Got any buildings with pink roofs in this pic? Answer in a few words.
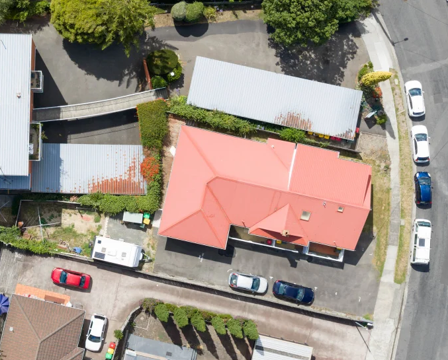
Yes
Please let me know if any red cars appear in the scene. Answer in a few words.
Yes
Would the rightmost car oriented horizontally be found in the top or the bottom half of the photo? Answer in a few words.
bottom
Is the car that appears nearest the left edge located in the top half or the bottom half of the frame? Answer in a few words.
bottom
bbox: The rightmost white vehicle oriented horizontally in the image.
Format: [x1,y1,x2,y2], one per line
[227,273,269,295]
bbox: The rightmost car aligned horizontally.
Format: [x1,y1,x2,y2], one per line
[272,280,315,305]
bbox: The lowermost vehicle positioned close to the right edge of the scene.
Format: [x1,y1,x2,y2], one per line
[409,219,436,268]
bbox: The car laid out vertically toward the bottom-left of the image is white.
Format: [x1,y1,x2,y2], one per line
[86,313,107,353]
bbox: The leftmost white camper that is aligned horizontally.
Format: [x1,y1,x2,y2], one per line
[91,235,151,267]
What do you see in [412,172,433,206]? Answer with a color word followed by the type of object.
blue car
